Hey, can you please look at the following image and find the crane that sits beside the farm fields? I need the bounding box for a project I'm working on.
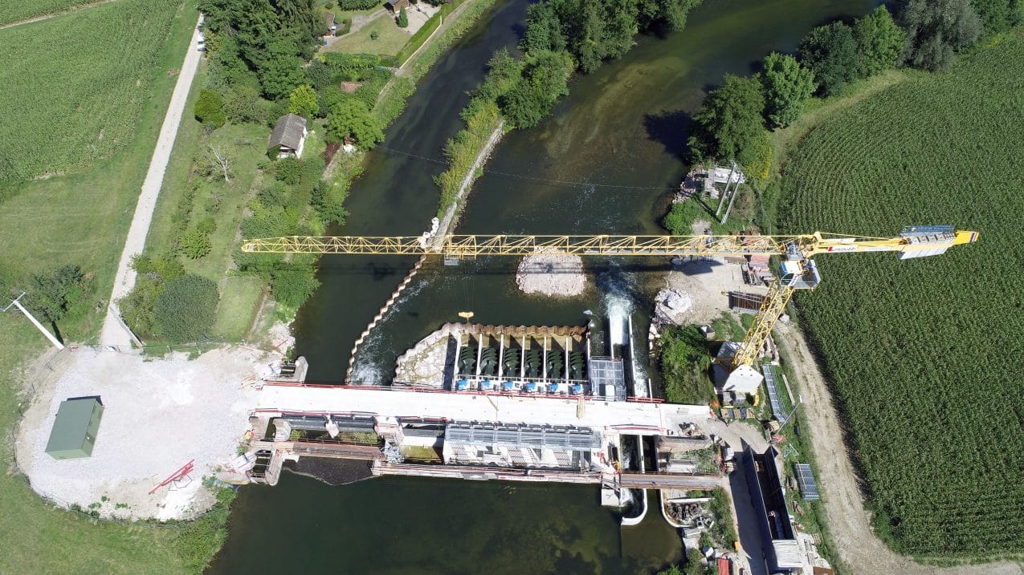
[243,217,976,397]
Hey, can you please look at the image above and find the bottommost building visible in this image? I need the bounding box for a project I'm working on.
[44,396,102,459]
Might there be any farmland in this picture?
Yes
